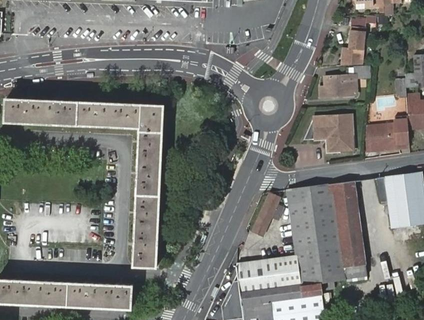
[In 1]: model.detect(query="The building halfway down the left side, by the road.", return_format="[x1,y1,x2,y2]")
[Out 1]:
[3,98,164,270]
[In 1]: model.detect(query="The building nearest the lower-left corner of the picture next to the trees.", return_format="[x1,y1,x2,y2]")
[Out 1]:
[0,278,134,312]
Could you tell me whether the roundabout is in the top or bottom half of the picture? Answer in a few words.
top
